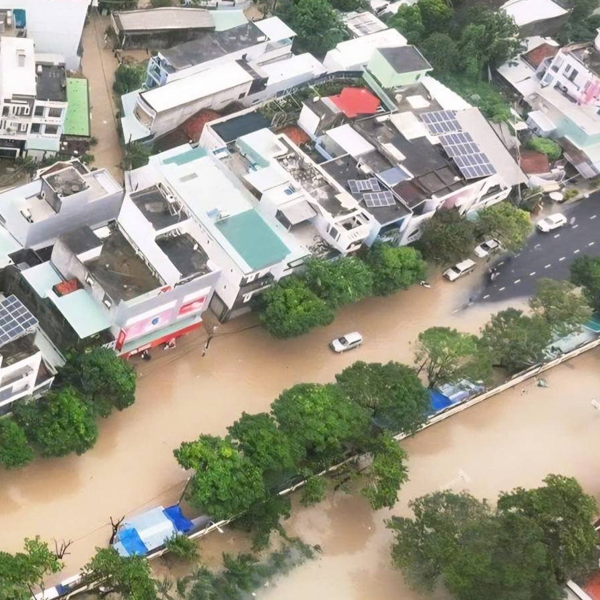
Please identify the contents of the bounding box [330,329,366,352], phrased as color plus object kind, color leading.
white car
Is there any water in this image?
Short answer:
Yes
